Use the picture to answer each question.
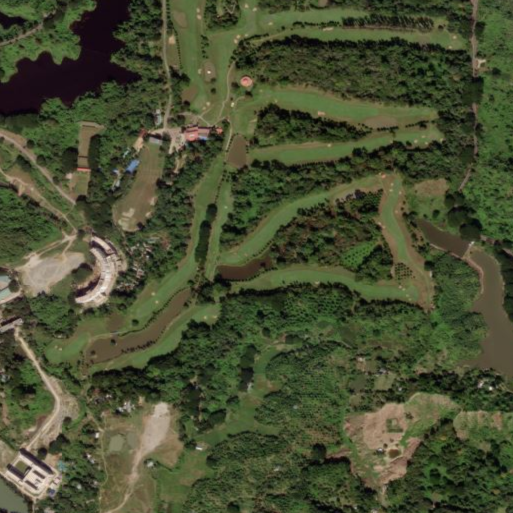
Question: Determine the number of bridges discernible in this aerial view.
none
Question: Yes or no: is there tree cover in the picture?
Yes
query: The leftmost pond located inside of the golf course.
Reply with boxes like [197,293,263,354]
[85,288,193,363]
